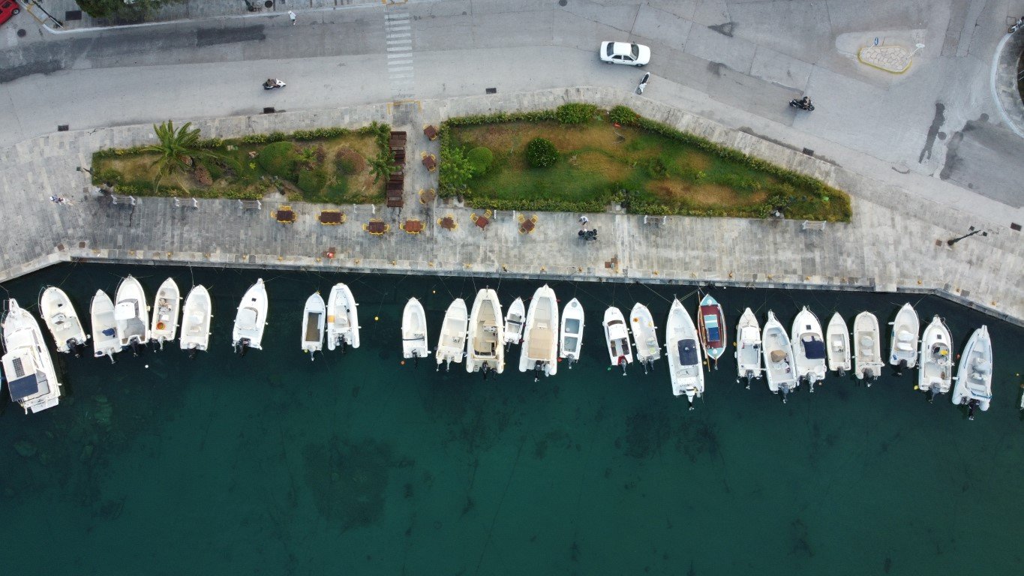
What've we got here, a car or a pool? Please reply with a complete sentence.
Looking from above, you can make out a car.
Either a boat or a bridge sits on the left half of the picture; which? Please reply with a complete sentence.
There is a boat on the left half of the picture.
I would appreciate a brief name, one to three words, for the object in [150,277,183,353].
boat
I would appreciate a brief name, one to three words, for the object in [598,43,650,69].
car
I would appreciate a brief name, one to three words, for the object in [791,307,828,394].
boat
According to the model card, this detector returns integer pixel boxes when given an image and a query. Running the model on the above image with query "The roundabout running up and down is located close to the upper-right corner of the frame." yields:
[991,24,1024,130]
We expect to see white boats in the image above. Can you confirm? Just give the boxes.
[400,298,431,371]
[90,289,123,365]
[602,306,633,374]
[504,297,526,351]
[519,286,561,383]
[0,303,63,418]
[150,277,183,353]
[888,303,922,377]
[434,298,469,372]
[325,284,362,357]
[733,308,762,388]
[850,312,886,388]
[791,307,828,394]
[560,298,585,372]
[762,311,799,402]
[112,275,152,356]
[178,284,214,362]
[952,327,994,414]
[40,286,91,358]
[917,315,957,405]
[231,280,267,357]
[465,285,505,378]
[826,312,852,377]
[302,292,327,362]
[630,303,663,371]
[664,296,706,411]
